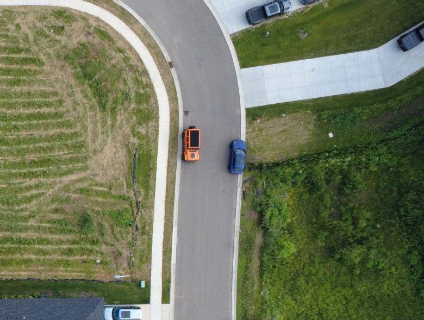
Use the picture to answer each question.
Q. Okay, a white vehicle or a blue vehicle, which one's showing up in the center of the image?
blue vehicle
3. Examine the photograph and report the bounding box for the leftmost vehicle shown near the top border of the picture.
[243,1,287,26]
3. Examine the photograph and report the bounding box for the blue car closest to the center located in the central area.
[225,141,246,174]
